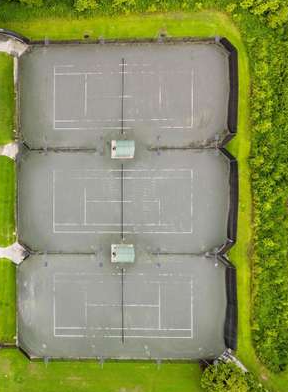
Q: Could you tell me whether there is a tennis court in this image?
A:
Yes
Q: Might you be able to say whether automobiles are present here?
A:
No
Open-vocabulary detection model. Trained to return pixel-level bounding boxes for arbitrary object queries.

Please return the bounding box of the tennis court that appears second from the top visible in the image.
[20,148,230,253]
